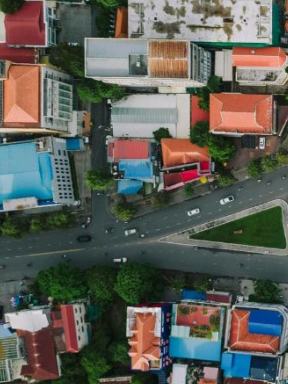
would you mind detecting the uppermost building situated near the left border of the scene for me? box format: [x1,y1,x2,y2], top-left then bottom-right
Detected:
[5,0,65,51]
